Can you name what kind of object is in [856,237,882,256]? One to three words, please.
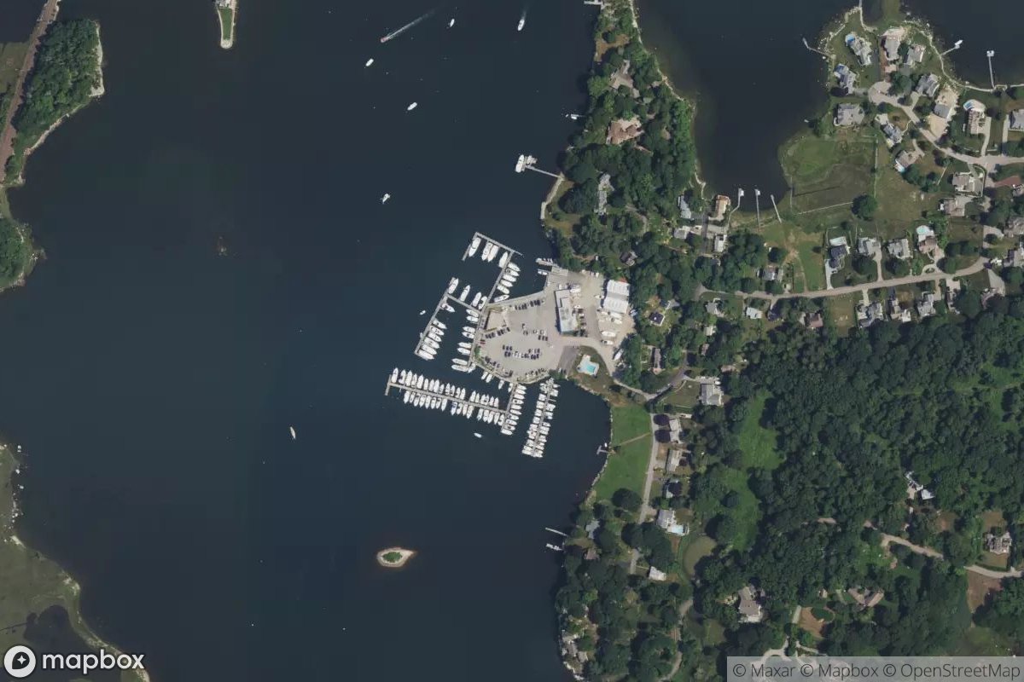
house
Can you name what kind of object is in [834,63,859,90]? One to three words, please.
house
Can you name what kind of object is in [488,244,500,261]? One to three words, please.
boat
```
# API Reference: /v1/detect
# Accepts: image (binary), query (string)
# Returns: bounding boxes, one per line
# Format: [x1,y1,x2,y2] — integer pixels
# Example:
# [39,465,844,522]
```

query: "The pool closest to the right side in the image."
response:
[963,99,986,111]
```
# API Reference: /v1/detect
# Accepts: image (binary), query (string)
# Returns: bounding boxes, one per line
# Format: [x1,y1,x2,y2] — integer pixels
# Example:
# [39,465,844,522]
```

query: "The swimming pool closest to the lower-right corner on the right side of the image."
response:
[672,522,689,536]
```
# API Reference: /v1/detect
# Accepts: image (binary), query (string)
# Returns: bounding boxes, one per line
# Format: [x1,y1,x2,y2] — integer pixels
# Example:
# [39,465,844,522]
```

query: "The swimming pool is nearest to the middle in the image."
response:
[577,355,599,375]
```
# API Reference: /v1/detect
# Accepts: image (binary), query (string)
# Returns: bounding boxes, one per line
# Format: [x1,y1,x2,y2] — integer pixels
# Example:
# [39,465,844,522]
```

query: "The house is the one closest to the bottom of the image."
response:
[562,635,588,663]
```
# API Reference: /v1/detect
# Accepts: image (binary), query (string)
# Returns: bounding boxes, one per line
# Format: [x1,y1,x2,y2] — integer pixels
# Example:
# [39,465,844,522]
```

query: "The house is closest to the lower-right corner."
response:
[984,531,1011,553]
